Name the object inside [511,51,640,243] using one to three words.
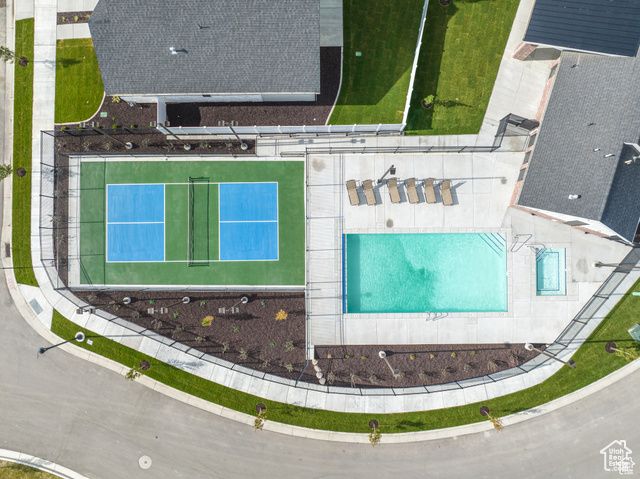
building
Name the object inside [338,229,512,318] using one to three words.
swimming pool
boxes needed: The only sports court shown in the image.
[69,155,306,291]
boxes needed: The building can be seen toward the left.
[91,0,321,103]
